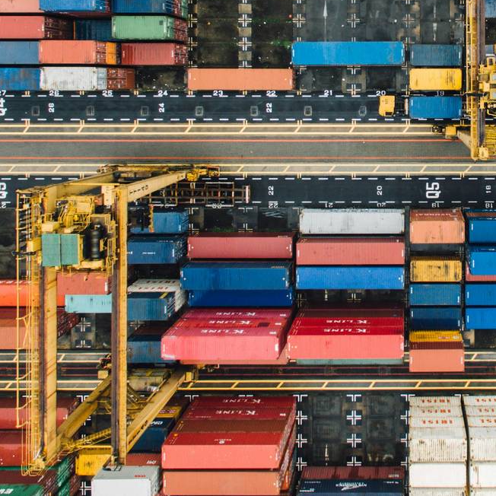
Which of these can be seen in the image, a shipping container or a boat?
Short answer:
shipping container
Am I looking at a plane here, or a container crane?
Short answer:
container crane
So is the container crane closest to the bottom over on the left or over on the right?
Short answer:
left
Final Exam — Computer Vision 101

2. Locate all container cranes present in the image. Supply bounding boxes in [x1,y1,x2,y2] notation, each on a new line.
[428,0,496,171]
[1,157,219,477]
